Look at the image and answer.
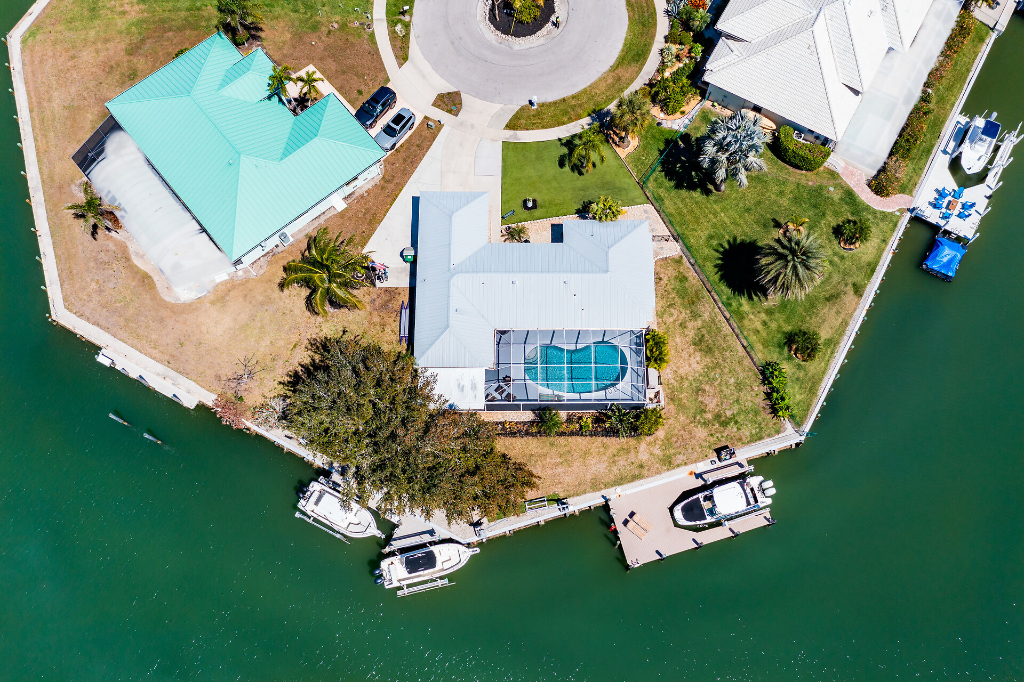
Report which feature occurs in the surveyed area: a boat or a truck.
boat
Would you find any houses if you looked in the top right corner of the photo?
Yes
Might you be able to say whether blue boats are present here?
Yes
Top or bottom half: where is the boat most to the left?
bottom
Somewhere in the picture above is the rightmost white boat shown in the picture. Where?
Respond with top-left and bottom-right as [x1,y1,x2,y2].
[961,110,1003,175]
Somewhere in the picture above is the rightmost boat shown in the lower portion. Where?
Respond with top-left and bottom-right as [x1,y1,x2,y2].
[673,478,774,521]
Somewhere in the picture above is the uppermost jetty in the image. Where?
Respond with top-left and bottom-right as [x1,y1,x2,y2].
[993,0,1015,36]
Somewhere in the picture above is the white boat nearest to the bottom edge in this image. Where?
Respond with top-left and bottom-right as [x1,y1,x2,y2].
[371,544,479,592]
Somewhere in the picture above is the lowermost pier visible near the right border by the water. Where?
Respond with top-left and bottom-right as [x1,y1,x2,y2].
[912,114,1017,240]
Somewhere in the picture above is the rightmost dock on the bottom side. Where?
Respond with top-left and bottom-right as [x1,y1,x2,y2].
[609,457,771,565]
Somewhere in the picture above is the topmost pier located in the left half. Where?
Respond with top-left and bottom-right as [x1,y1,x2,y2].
[101,349,200,409]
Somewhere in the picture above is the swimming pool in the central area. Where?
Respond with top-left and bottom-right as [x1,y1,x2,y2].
[520,337,632,397]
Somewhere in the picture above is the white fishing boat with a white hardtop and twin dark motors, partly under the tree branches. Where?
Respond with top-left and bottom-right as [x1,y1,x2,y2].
[292,481,385,534]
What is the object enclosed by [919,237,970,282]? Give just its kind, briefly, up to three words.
boat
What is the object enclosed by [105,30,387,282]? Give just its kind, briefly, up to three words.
house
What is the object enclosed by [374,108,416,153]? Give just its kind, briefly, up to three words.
car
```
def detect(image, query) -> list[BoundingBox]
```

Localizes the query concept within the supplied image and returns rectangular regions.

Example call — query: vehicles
[374,108,416,153]
[355,86,398,131]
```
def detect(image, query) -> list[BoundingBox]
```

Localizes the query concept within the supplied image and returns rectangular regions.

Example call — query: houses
[105,30,387,282]
[413,190,656,417]
[704,0,935,149]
